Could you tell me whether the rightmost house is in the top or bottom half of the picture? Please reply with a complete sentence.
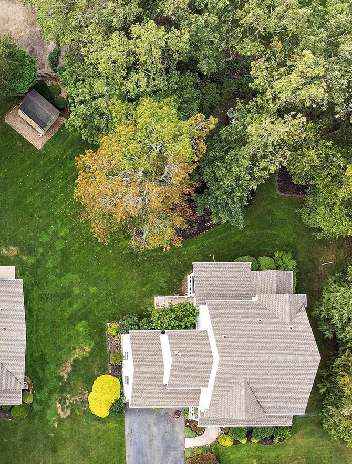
It is in the bottom half that the rightmost house appears.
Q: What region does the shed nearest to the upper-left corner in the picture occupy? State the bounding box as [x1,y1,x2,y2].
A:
[19,90,63,133]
